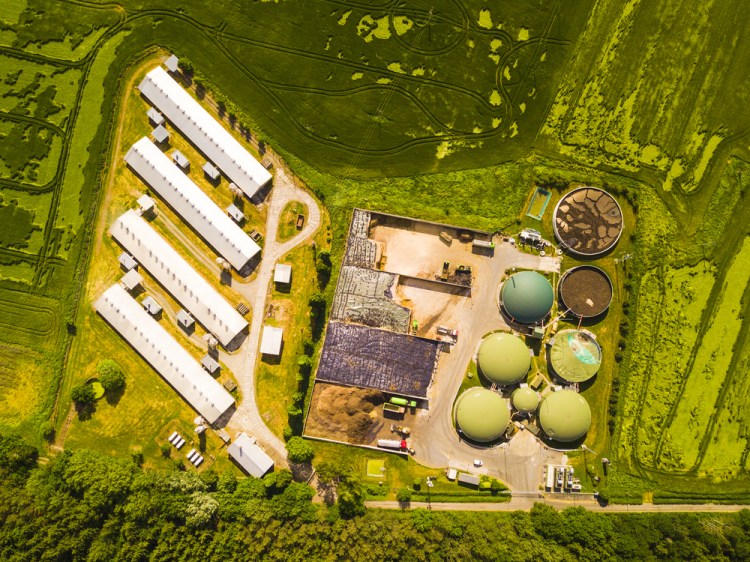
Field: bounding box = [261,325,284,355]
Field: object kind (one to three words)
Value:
shed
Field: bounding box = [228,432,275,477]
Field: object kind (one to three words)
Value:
house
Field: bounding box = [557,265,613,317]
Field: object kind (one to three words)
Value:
storage tank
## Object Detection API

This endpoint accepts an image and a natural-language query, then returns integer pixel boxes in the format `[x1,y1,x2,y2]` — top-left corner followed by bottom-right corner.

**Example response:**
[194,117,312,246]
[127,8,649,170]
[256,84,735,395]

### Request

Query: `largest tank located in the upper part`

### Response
[552,188,622,255]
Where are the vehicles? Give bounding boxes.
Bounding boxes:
[441,262,450,281]
[412,322,417,335]
[378,438,406,448]
[472,238,494,249]
[458,265,471,272]
[472,459,483,465]
[390,396,417,407]
[437,327,458,336]
[383,402,405,414]
[390,422,411,433]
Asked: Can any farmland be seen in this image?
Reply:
Yes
